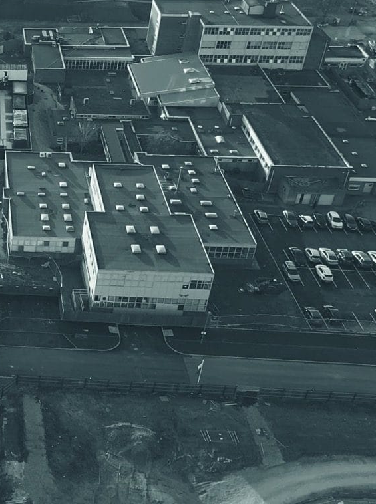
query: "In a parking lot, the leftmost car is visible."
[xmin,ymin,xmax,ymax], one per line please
[254,209,269,224]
